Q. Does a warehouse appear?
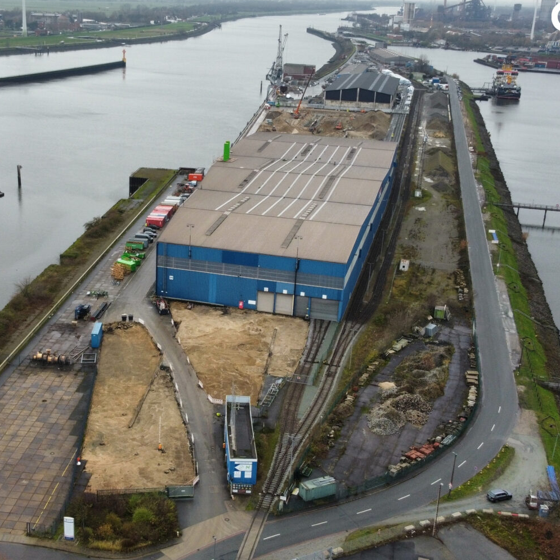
Yes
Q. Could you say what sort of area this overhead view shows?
port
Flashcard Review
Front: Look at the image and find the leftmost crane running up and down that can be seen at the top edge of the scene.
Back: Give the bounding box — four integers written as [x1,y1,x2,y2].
[264,24,289,101]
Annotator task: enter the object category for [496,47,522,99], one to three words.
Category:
ship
